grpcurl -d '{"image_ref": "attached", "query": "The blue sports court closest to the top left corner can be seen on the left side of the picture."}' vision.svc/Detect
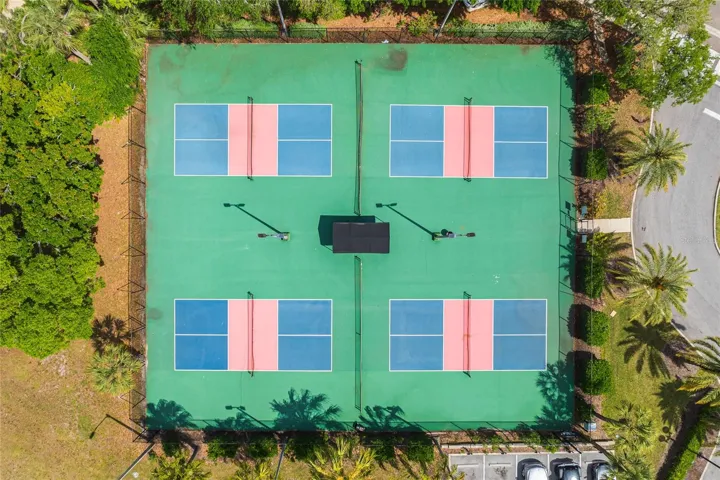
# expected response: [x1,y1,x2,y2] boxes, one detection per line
[174,103,332,176]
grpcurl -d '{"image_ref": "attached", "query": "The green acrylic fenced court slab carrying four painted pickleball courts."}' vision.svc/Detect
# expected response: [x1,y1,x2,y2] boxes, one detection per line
[145,41,577,432]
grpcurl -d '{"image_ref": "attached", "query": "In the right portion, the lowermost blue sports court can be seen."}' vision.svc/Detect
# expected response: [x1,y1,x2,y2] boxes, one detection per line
[390,299,548,371]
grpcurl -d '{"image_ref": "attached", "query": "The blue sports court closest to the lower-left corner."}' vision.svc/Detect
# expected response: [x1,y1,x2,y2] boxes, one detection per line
[174,299,332,371]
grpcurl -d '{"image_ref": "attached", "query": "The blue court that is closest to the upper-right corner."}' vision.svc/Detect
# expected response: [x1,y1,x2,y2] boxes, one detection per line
[390,105,548,179]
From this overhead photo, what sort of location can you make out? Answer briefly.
sports ground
